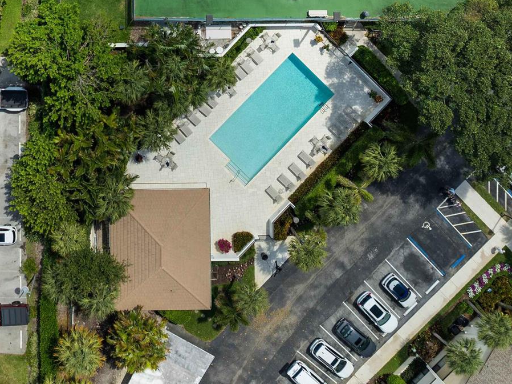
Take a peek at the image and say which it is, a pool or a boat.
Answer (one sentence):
There is a pool in the scene.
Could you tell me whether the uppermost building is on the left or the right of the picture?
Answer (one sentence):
You can find the uppermost building on the left side of the picture.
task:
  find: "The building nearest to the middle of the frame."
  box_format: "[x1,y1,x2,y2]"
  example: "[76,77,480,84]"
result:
[111,183,212,312]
